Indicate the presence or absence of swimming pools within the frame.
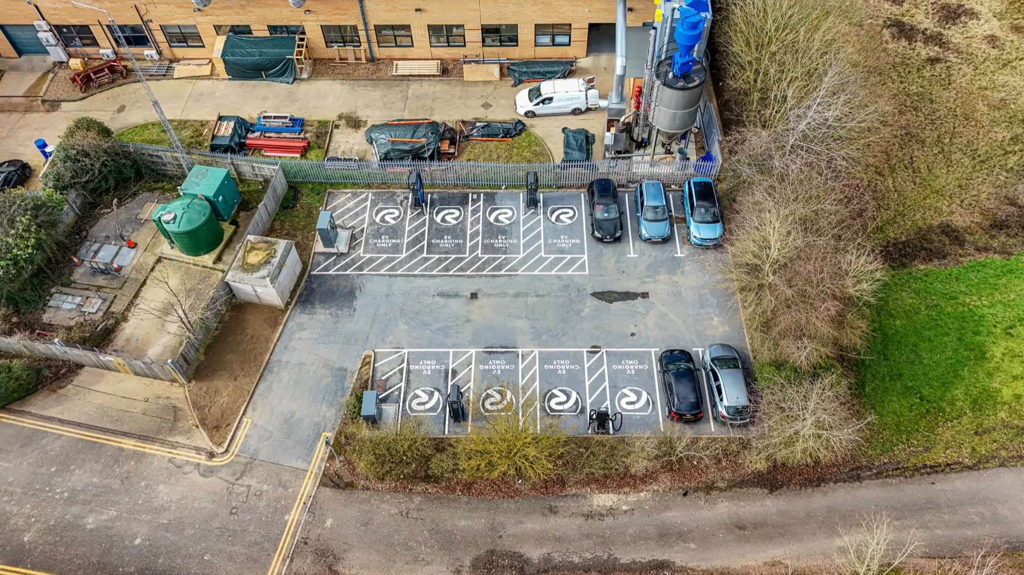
No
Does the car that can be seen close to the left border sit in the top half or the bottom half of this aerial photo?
top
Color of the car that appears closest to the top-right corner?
blue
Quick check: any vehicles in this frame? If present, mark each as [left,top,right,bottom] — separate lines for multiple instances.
[662,346,709,423]
[636,181,676,242]
[681,180,726,247]
[704,344,755,425]
[0,151,34,183]
[515,70,604,114]
[589,179,627,241]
